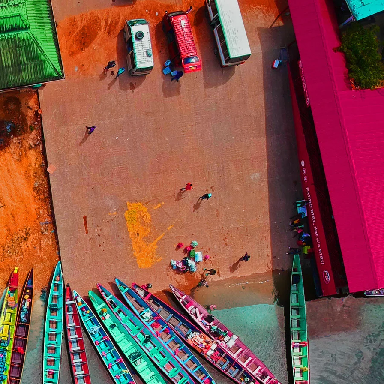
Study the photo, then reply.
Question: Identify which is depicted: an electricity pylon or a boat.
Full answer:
I can see a boat in this picture.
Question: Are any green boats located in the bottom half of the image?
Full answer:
Yes, the scene does show a green boat in the bottom half of the image.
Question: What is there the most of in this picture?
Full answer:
Most of the picture is covered by paved ground.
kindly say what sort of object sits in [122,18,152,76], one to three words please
van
